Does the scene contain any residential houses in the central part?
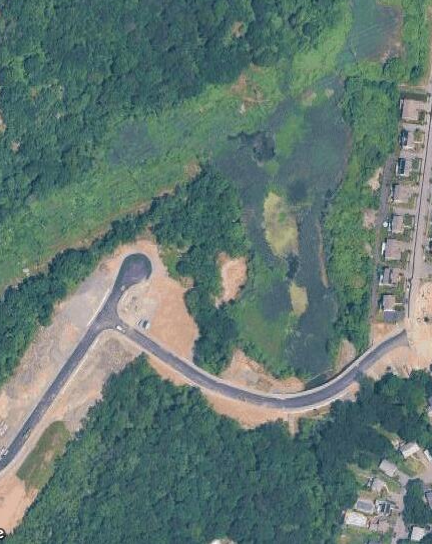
No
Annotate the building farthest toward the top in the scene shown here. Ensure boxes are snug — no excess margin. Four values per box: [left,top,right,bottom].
[399,97,420,119]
